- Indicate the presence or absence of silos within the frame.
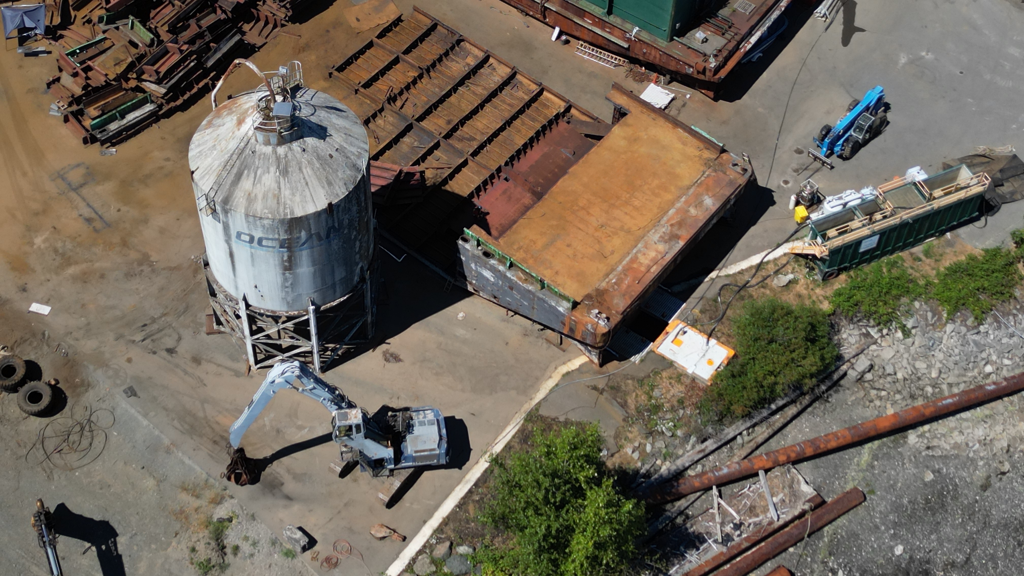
Yes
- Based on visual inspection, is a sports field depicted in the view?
No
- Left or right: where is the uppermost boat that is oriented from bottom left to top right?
right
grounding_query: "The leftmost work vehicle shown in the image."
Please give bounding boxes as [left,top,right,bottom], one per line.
[220,353,460,510]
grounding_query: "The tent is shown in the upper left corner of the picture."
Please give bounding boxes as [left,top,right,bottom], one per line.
[2,6,51,60]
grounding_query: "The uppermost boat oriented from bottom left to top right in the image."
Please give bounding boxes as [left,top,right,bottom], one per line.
[741,11,785,63]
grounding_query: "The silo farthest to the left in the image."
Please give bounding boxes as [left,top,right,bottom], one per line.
[183,58,382,372]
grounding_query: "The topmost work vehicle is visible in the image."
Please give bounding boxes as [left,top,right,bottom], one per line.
[800,77,889,177]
